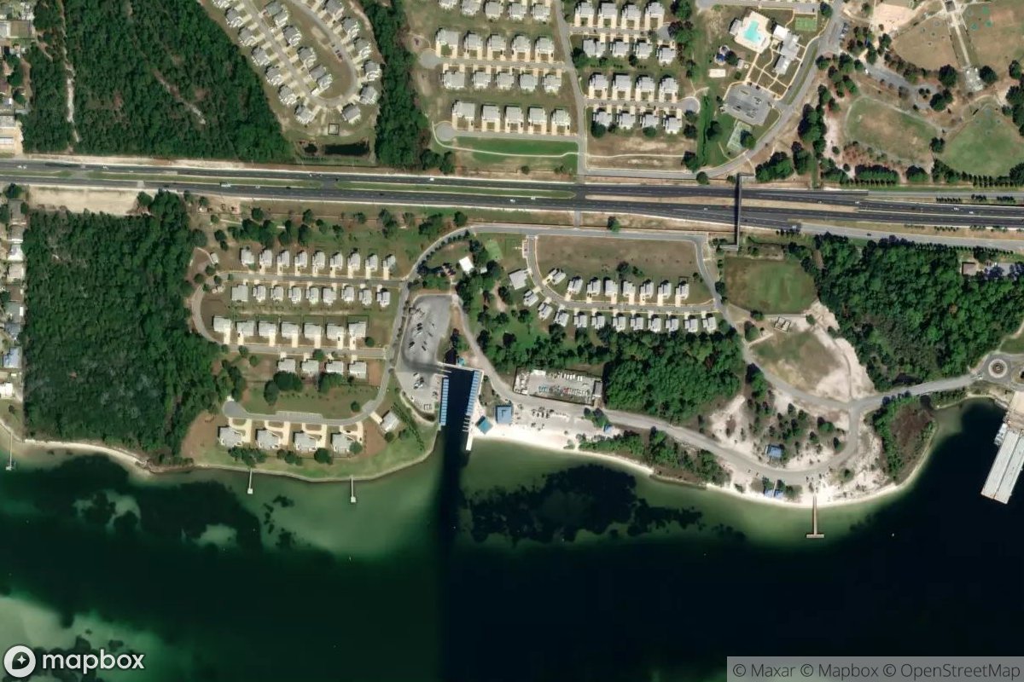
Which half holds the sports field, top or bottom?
top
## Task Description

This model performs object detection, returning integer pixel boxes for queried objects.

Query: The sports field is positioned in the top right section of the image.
[848,98,936,160]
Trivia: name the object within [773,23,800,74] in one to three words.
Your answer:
building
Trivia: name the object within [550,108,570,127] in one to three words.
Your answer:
house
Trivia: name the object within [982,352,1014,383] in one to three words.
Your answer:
roundabout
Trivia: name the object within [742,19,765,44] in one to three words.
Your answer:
swimming pool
